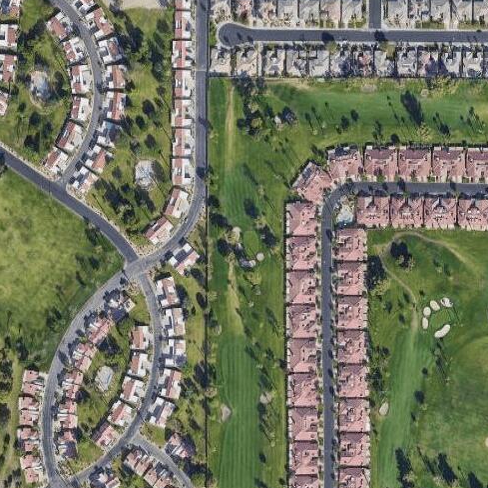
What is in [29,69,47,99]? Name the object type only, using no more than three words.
swimming pool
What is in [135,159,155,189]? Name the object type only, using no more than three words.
swimming pool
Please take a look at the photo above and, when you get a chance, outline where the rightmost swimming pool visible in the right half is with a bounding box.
[338,204,356,228]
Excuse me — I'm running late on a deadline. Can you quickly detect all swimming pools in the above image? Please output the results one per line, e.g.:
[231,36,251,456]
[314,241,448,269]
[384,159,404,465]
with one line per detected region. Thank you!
[338,204,356,228]
[95,365,113,390]
[29,69,47,99]
[135,159,155,189]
